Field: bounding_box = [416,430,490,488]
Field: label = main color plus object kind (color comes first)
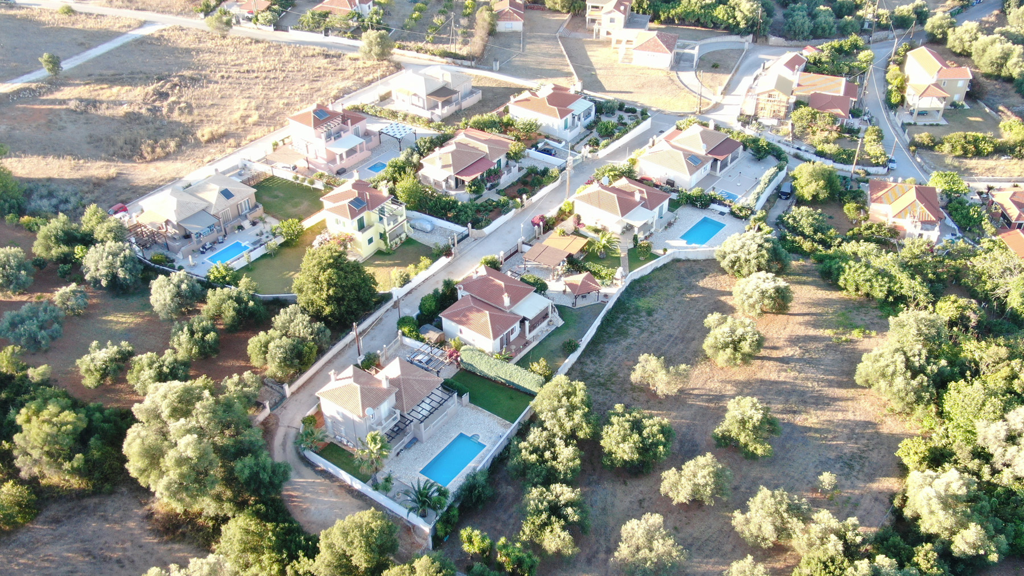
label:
blue swimming pool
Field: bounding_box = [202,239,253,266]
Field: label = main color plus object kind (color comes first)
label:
blue swimming pool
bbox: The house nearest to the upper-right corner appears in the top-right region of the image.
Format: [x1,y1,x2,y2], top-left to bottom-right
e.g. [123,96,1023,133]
[901,41,972,120]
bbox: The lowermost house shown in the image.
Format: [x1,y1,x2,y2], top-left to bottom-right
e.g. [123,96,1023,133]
[315,355,458,456]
